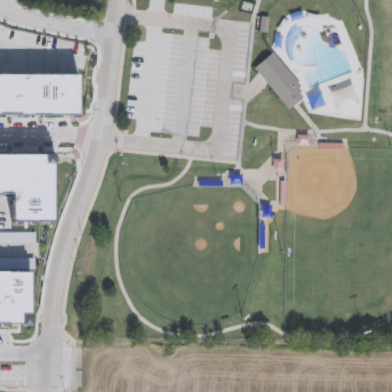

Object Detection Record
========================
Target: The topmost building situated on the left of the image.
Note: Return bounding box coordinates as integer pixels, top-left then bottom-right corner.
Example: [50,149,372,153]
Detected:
[0,73,82,117]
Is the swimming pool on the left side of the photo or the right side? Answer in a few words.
right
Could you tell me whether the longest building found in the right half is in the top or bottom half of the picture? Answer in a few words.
top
